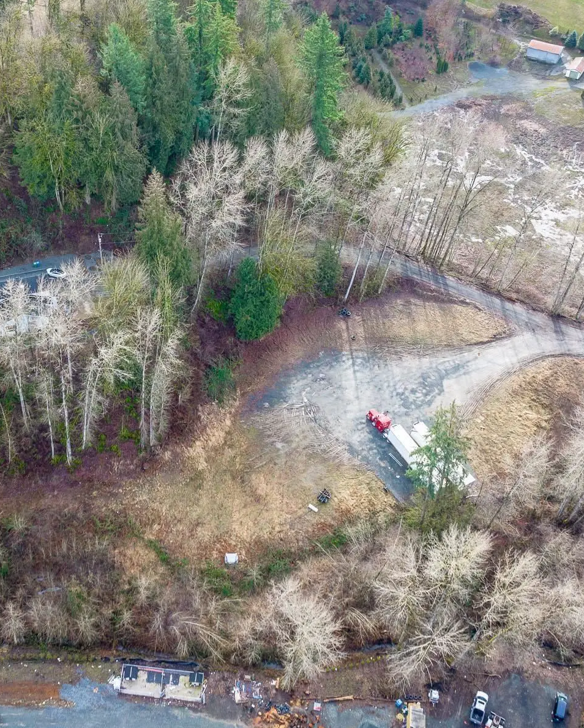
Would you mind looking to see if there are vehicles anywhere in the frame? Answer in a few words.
Yes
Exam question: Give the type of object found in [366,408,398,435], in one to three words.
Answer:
truck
